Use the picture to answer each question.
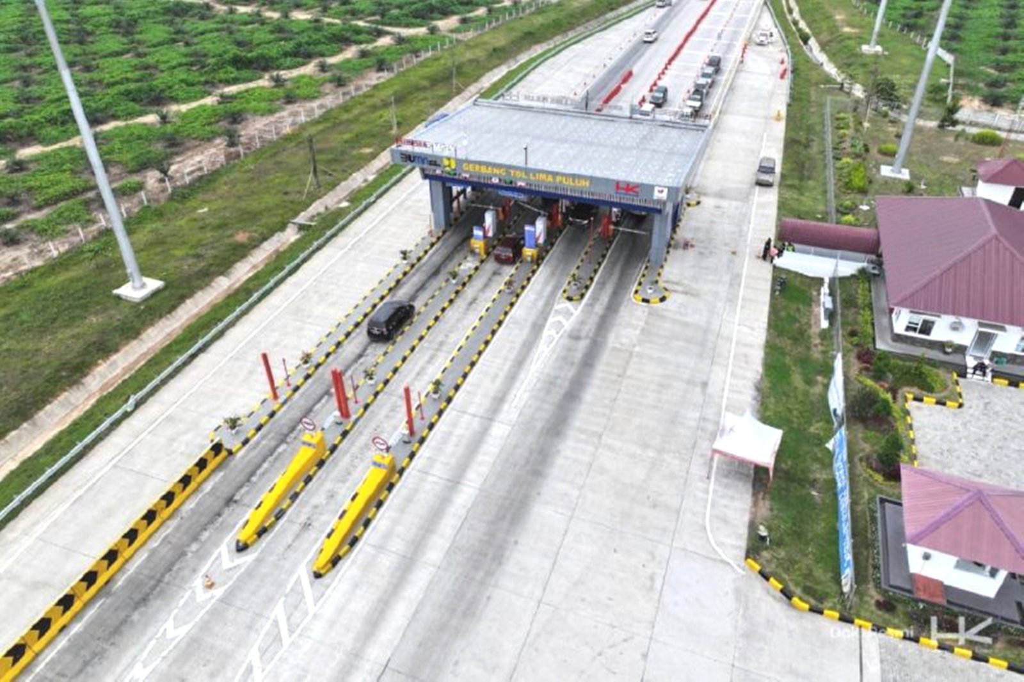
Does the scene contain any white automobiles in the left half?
No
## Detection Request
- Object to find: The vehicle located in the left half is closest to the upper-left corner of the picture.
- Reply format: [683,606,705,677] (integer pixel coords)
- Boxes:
[365,296,417,341]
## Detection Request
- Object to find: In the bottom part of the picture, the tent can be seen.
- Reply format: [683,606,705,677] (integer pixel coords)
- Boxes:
[708,405,781,492]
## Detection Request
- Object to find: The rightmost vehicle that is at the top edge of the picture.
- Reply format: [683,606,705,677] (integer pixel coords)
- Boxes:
[755,28,772,45]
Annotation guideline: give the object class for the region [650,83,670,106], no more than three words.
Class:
car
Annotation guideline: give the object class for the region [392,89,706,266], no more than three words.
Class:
toll station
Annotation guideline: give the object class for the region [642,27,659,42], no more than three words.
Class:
car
